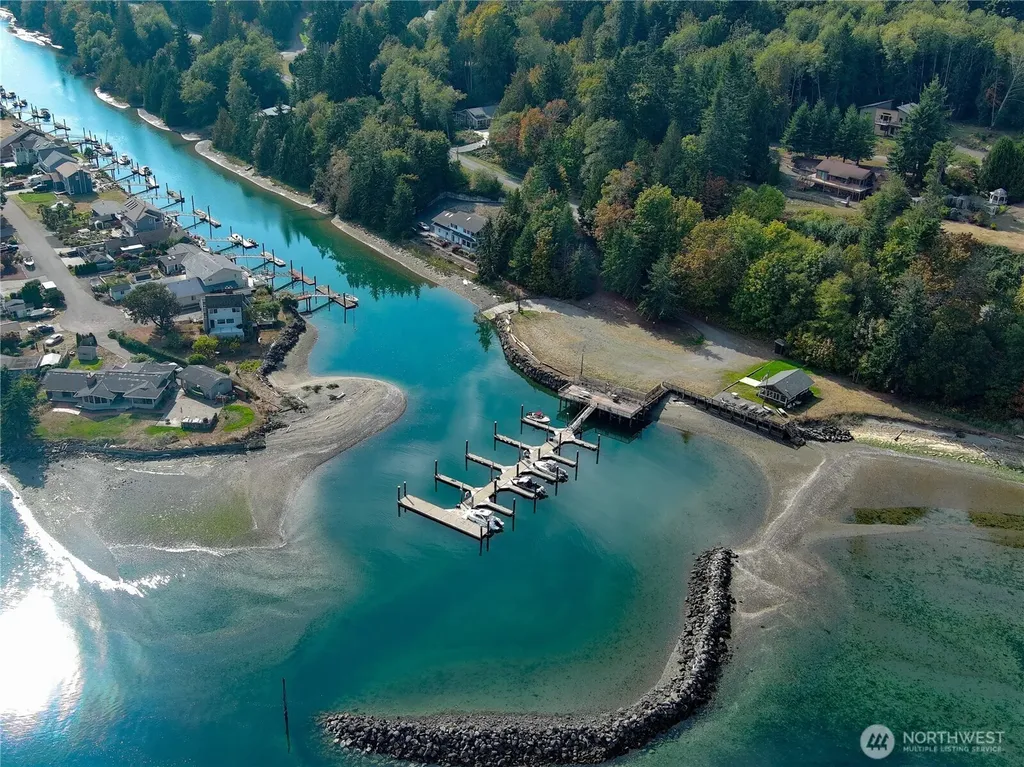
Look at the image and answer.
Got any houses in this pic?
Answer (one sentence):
Yes, I can see a house in this picture.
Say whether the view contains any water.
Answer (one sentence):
Yes, some water is visible.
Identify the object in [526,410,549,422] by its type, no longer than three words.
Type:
boat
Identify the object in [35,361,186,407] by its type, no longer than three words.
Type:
house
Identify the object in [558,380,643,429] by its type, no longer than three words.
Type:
pier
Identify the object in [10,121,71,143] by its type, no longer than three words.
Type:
house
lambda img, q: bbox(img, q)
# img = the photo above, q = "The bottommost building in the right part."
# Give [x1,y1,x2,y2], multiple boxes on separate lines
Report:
[750,369,815,411]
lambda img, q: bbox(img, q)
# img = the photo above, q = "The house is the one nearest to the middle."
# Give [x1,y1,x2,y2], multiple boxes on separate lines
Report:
[436,211,493,249]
